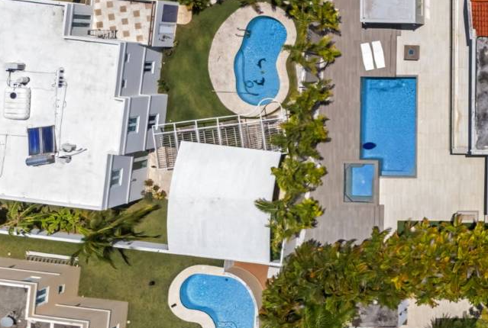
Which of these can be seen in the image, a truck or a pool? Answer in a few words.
pool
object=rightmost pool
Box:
[359,76,418,178]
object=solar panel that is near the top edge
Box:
[161,5,180,23]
